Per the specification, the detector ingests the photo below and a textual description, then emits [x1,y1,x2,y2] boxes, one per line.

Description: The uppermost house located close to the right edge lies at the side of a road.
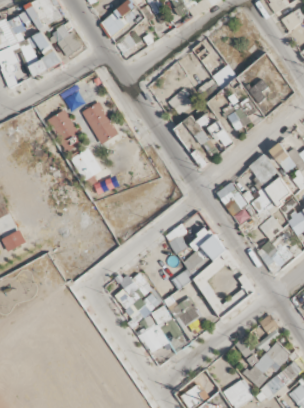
[281,8,304,32]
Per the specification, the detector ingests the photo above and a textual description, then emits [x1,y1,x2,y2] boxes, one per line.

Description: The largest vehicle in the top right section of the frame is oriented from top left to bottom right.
[254,1,269,20]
